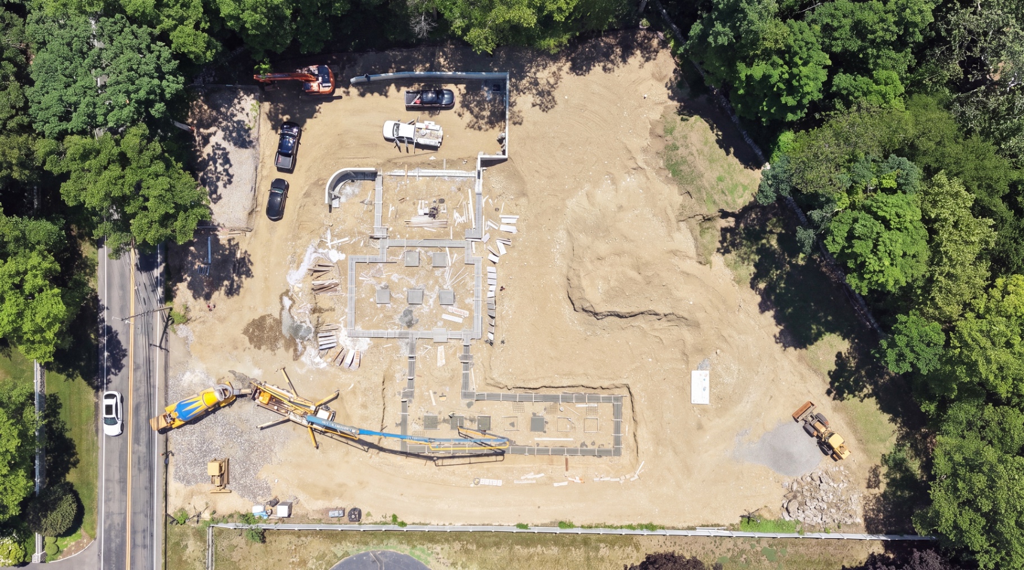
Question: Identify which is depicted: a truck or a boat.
truck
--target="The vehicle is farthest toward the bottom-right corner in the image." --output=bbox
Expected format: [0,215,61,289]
[791,401,850,461]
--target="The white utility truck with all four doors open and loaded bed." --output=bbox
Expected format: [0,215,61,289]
[385,120,444,153]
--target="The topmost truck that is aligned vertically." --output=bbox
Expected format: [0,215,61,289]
[275,120,301,174]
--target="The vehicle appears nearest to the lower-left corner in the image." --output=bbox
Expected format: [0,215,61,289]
[101,391,125,436]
